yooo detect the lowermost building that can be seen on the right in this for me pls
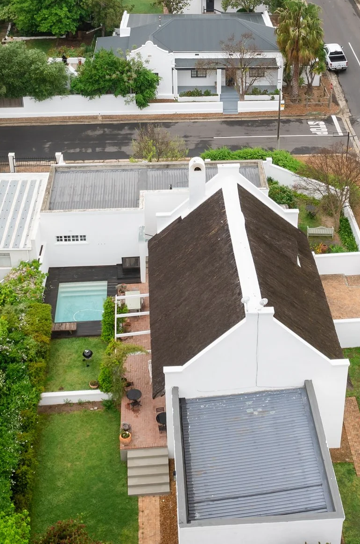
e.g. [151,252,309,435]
[121,151,354,544]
